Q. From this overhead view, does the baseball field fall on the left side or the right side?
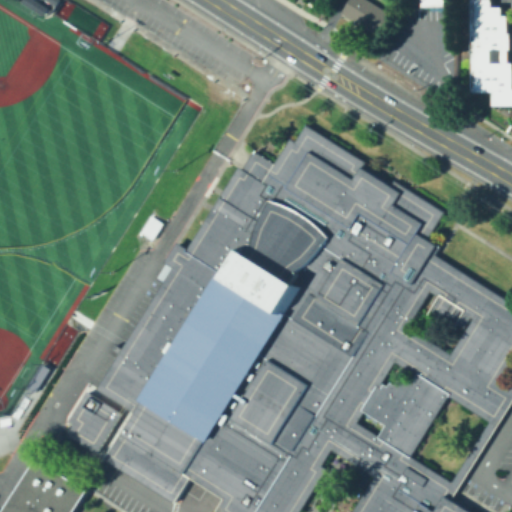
left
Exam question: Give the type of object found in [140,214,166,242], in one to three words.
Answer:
shed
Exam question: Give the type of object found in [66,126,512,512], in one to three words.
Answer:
building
